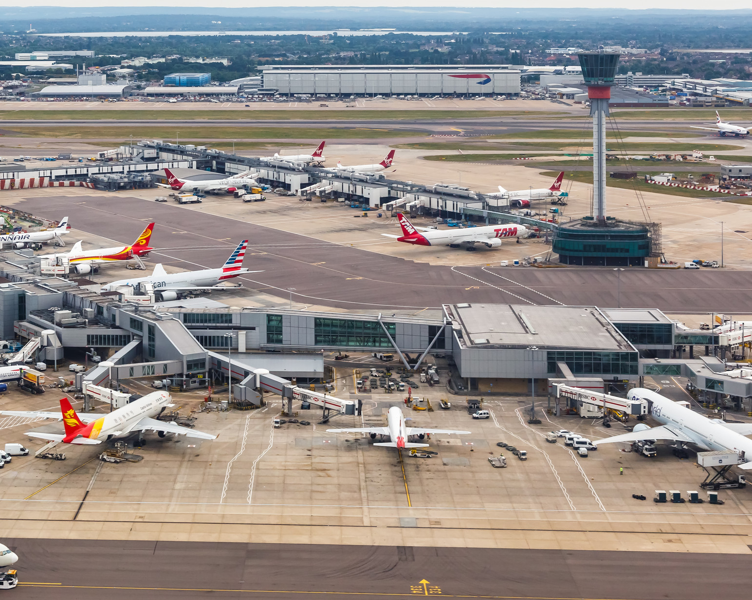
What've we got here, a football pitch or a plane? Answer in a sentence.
The image shows a plane.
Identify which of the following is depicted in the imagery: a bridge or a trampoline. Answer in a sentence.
The one in the frame is a bridge.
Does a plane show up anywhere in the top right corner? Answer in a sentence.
Yes, a plane is visible in the top right corner.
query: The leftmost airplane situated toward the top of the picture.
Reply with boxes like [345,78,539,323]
[1,223,79,254]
